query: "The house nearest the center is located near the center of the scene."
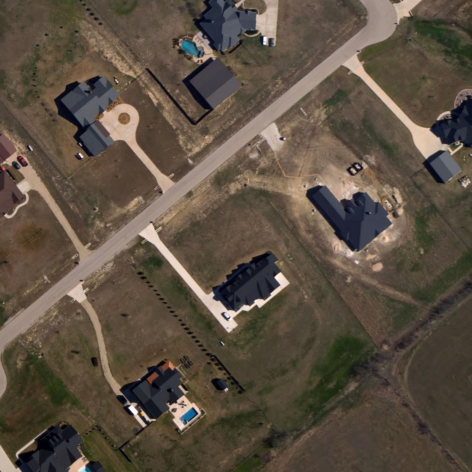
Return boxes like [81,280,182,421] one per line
[218,251,284,312]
